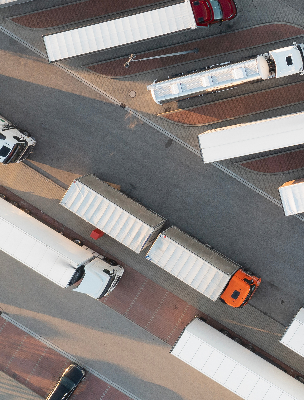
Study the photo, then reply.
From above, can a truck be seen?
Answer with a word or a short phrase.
Yes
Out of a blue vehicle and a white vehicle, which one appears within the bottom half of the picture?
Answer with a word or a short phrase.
white vehicle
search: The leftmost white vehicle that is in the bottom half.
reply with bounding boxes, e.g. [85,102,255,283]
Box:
[0,195,127,305]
